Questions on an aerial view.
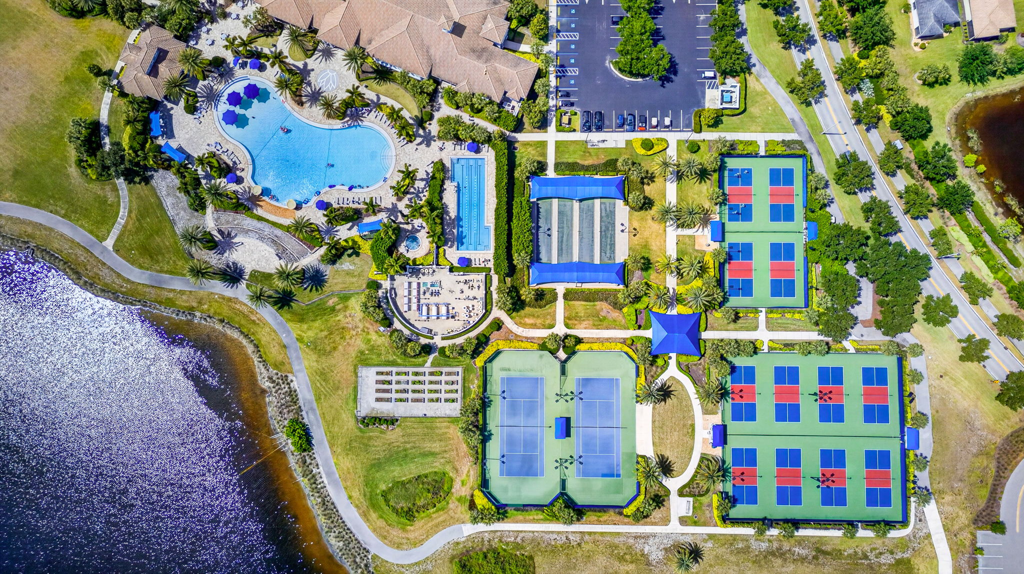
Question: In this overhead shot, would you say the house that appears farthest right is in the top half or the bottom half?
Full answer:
The house that appears farthest right is in the top half of the image.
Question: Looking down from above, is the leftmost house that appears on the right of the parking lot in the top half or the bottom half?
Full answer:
You can find the leftmost house that appears on the right of the parking lot in the top half.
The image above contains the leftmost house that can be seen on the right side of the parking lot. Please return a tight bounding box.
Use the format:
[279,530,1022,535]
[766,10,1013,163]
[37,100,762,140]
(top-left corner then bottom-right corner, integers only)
[908,0,961,41]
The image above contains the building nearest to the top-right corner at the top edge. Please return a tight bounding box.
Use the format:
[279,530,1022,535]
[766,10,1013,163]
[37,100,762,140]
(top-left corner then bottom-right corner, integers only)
[963,0,1017,41]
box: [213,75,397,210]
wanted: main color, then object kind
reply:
blue swimming pool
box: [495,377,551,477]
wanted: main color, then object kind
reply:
blue tennis court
